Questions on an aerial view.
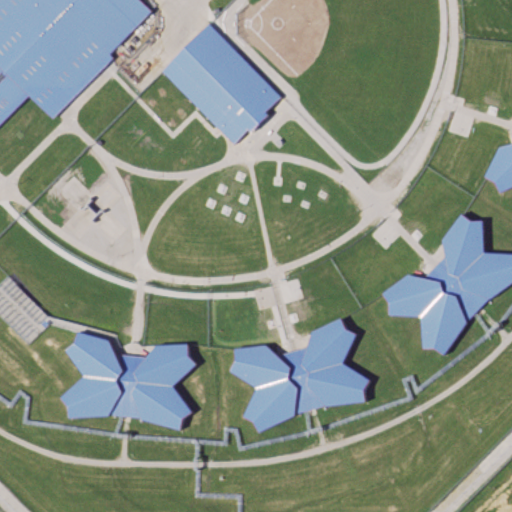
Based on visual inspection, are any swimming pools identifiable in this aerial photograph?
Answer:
No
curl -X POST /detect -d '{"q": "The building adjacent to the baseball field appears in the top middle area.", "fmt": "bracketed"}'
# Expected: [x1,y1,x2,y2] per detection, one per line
[164,26,282,144]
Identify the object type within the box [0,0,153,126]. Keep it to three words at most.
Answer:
building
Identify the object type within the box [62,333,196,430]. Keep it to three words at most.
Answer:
building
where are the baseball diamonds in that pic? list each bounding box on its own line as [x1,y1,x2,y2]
[238,0,441,162]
